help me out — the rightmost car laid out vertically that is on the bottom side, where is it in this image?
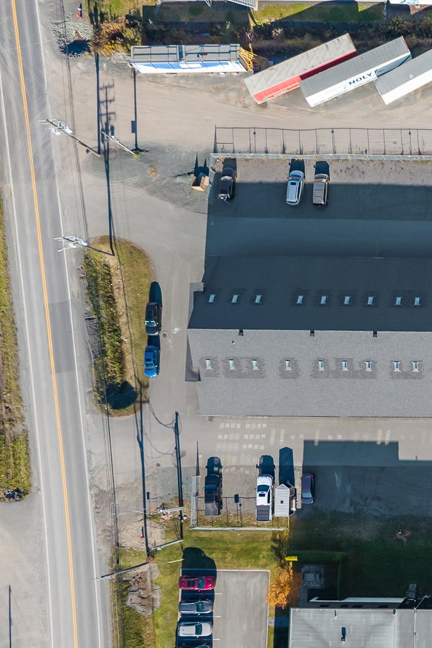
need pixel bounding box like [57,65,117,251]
[301,472,316,504]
